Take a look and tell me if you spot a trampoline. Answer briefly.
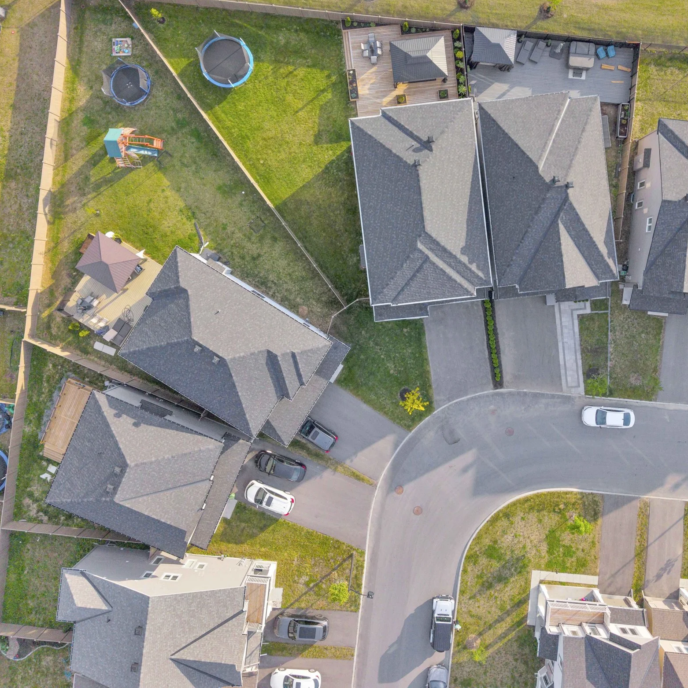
Yes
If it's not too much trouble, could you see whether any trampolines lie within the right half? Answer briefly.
No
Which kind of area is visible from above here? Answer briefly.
residential area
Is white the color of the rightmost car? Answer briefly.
Yes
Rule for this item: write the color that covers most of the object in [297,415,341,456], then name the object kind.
gray car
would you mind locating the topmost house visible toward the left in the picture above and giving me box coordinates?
[116,242,352,448]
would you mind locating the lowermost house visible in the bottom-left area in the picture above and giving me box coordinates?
[55,546,277,688]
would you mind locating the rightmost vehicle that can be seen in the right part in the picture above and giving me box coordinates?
[580,405,635,430]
